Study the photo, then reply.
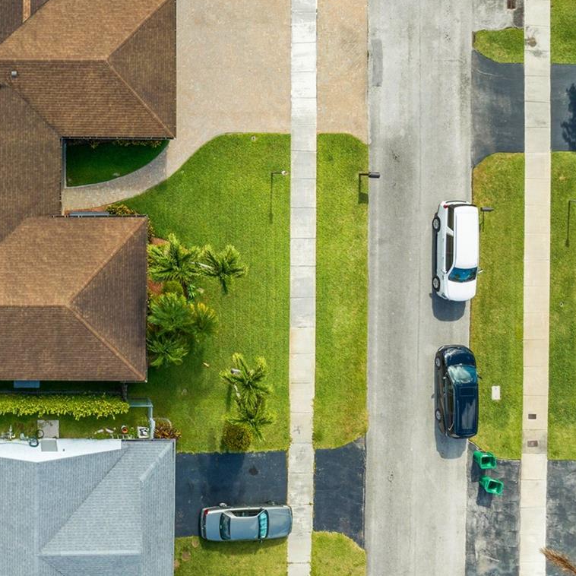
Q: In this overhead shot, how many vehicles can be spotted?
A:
three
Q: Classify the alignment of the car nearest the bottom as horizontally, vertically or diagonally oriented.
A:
horizontally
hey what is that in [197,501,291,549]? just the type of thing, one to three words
car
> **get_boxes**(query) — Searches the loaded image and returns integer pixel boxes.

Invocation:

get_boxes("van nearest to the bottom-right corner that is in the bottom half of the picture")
[435,348,487,448]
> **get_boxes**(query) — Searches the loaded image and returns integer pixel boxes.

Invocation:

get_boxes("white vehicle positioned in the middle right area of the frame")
[435,202,488,300]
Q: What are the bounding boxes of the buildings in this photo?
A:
[0,0,178,390]
[0,437,177,576]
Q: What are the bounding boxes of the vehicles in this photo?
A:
[435,202,488,300]
[197,501,291,549]
[435,348,487,448]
